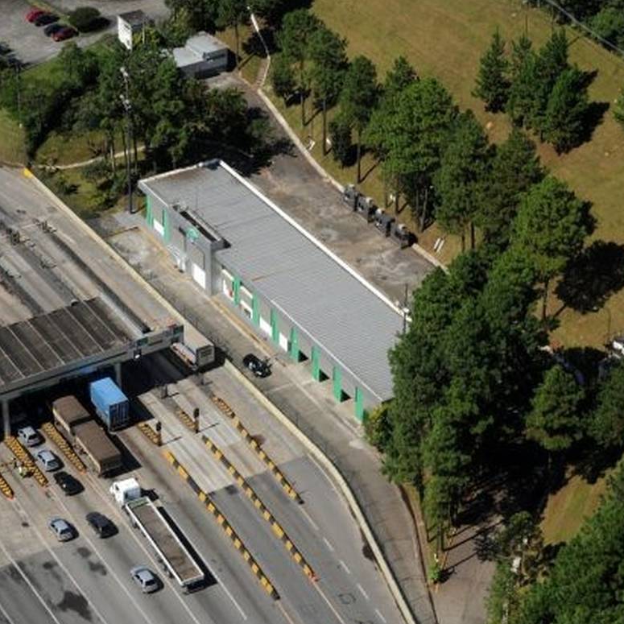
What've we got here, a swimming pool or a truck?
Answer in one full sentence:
I can see a truck in this picture.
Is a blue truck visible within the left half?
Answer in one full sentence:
Yes, within the left half there is a blue truck.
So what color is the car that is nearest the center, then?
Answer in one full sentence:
The color of the car that is nearest the center is black.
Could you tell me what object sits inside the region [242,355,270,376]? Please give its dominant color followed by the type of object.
black car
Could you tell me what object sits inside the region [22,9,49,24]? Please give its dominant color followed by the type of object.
red car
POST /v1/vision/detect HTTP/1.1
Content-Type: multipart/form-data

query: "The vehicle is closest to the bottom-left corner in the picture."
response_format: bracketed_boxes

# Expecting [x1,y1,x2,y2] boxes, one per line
[48,518,74,544]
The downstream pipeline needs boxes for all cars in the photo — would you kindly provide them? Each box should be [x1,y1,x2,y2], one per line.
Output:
[15,428,41,451]
[22,9,49,24]
[40,22,67,37]
[48,518,74,544]
[84,512,116,540]
[31,14,58,29]
[34,452,60,476]
[48,27,76,42]
[242,355,270,376]
[52,472,81,499]
[128,567,160,597]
